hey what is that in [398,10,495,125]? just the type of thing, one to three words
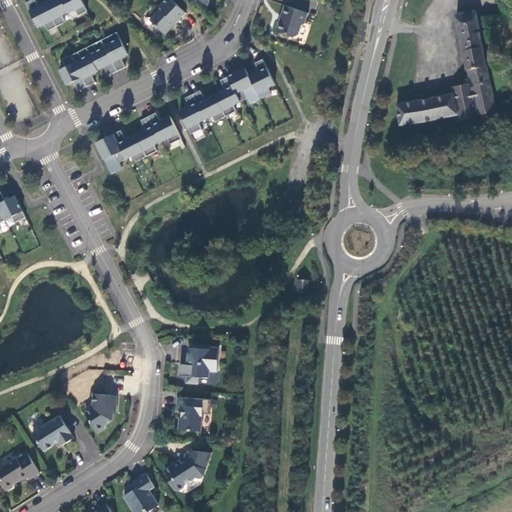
house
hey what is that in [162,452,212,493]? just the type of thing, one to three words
house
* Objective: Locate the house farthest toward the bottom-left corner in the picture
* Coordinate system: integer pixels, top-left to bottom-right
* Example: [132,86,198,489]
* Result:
[0,454,37,494]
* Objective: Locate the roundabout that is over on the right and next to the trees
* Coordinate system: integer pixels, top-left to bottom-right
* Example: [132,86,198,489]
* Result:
[324,204,396,276]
